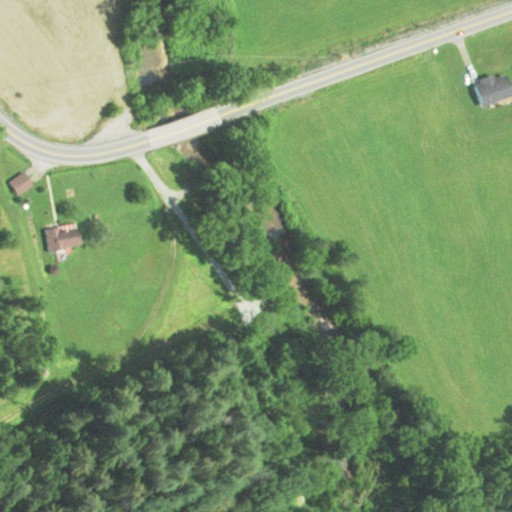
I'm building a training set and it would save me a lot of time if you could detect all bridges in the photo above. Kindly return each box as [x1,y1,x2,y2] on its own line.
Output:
[148,109,222,151]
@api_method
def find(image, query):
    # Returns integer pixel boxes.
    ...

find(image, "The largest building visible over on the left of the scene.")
[43,226,83,260]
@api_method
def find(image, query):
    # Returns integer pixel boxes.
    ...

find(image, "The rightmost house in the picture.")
[475,76,512,110]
